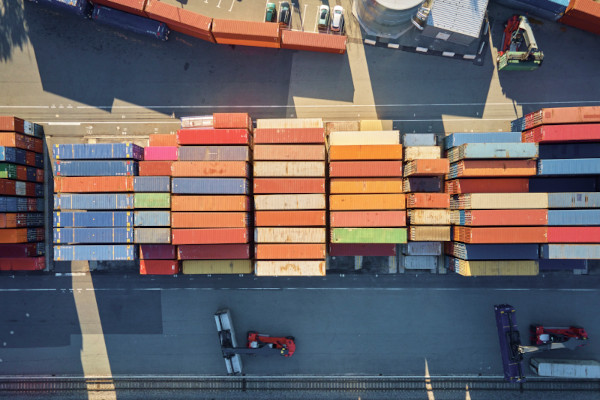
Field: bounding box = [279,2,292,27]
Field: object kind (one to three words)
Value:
vehicle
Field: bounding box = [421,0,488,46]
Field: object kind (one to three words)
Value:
building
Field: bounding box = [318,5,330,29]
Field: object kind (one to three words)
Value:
vehicle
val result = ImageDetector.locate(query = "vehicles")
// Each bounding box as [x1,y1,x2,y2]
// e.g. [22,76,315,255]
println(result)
[210,307,297,378]
[318,5,330,29]
[279,2,292,27]
[332,6,345,32]
[265,2,277,23]
[498,307,586,381]
[495,8,544,66]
